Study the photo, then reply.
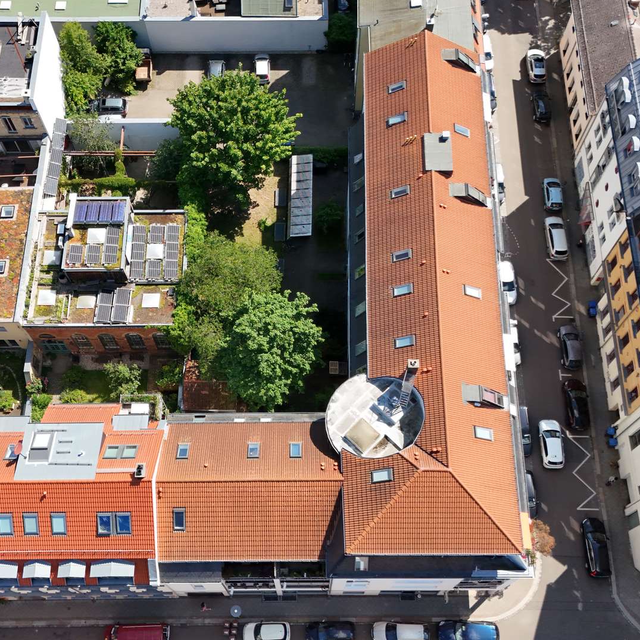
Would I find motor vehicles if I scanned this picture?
Yes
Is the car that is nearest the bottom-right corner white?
No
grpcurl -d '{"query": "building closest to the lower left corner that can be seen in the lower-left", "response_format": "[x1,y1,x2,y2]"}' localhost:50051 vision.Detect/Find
[0,392,172,598]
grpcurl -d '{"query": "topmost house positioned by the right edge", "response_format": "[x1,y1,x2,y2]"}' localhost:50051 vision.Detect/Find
[551,0,640,149]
